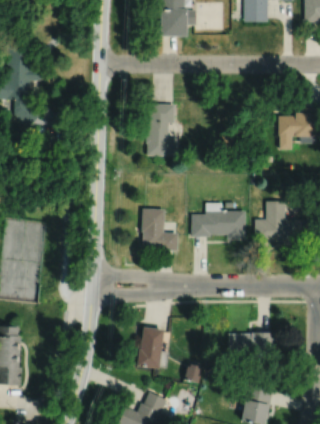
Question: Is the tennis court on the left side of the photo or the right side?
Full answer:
You can find the tennis court on the left side of the picture.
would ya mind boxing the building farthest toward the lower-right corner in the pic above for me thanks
[242,389,270,424]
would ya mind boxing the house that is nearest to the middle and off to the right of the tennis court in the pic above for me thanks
[142,208,178,251]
